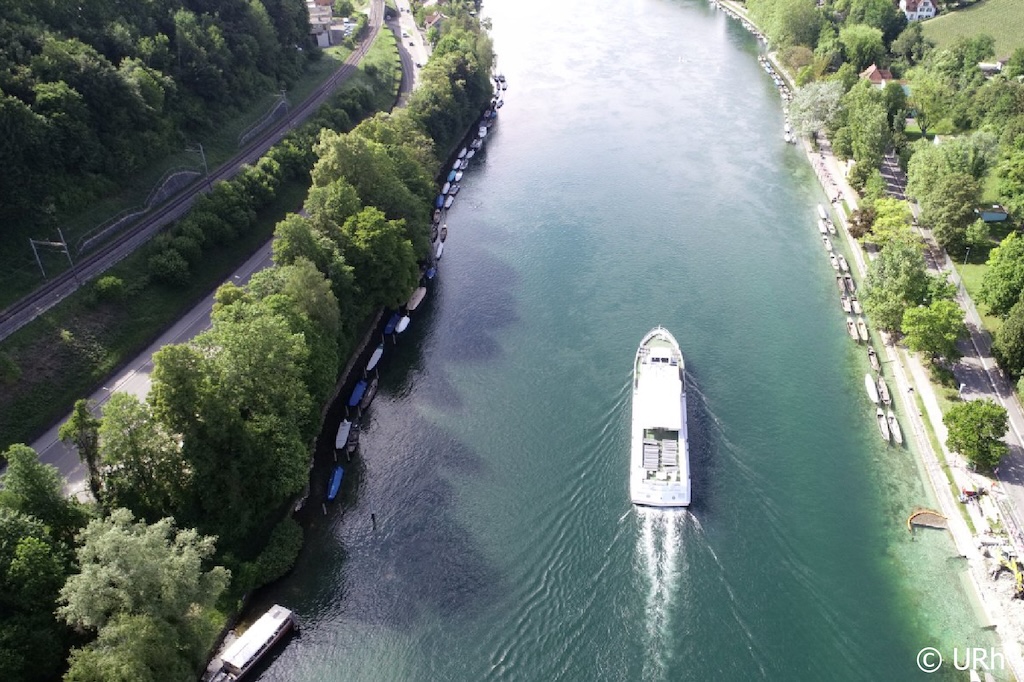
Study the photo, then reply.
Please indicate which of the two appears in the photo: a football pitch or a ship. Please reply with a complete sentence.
The one in the frame is a ship.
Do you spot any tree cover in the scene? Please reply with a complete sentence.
Yes, there's tree cover in this view.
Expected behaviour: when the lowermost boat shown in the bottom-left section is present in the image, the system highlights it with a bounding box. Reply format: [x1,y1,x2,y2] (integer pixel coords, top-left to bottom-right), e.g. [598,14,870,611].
[210,604,298,682]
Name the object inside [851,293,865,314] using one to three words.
boat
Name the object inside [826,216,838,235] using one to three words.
boat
